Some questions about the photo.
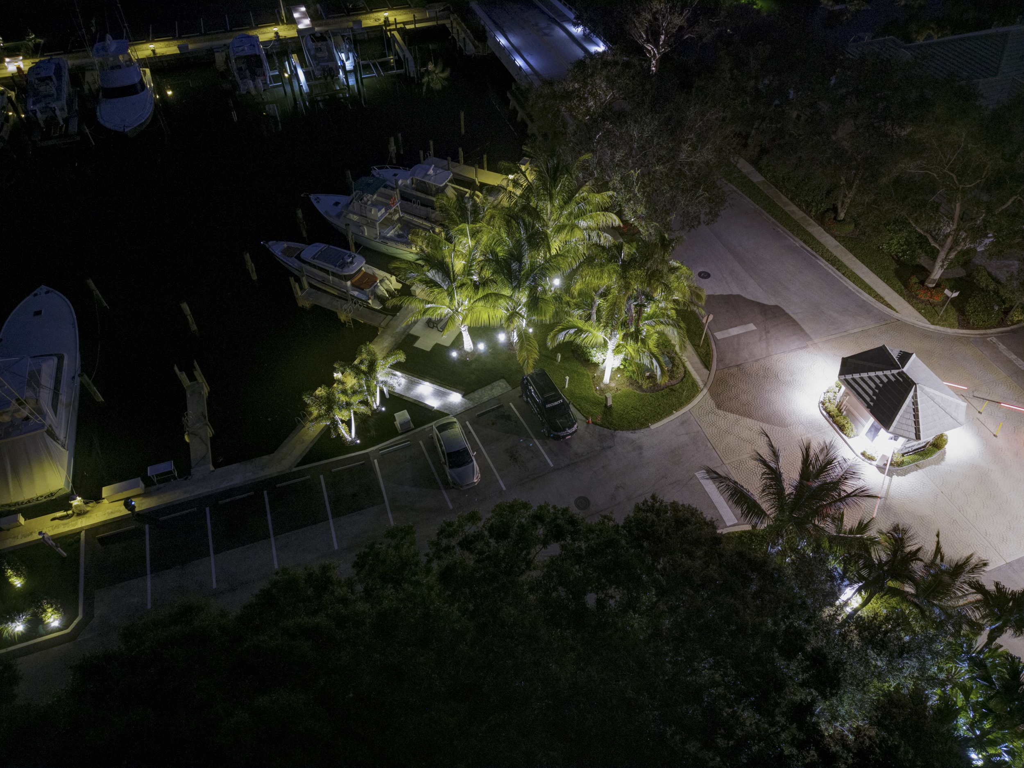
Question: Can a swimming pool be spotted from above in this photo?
No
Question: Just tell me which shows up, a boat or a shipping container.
boat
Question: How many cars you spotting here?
two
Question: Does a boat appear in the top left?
Yes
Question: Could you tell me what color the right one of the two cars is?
black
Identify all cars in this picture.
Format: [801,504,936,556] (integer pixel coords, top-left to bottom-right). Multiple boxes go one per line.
[515,369,583,445]
[424,417,487,498]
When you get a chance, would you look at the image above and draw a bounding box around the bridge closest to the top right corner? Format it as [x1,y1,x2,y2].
[468,0,641,101]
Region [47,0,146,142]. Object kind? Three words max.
boat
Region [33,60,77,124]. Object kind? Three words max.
boat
